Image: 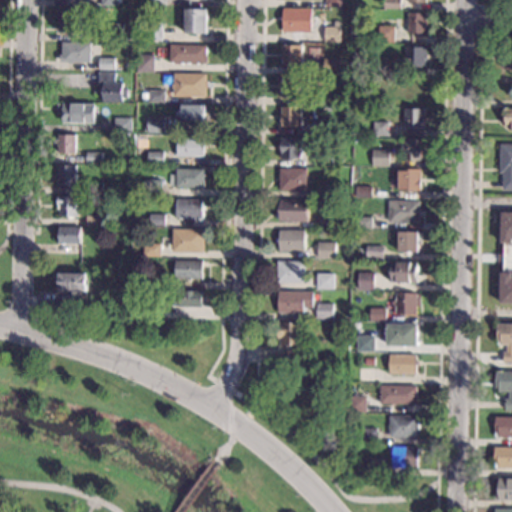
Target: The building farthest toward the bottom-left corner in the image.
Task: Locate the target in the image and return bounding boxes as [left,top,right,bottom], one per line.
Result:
[54,272,88,292]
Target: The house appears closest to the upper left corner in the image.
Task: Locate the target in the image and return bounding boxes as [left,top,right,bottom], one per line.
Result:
[58,41,92,64]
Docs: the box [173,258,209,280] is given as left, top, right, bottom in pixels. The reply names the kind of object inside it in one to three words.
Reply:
house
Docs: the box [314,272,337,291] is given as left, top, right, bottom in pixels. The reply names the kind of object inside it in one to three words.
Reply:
building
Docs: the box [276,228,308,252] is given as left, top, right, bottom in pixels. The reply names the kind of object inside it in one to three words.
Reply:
house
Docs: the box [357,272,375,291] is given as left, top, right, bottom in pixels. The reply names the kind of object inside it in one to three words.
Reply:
building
